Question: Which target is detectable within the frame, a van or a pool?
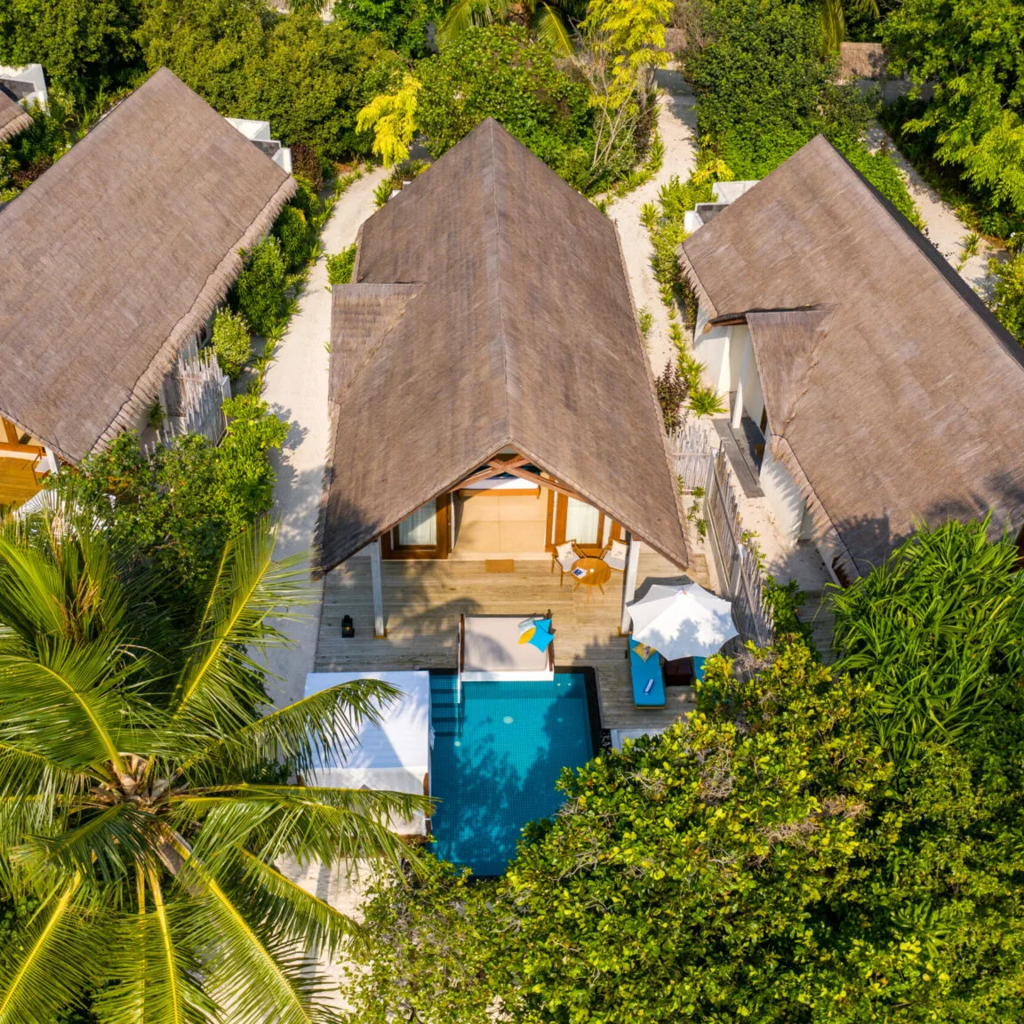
pool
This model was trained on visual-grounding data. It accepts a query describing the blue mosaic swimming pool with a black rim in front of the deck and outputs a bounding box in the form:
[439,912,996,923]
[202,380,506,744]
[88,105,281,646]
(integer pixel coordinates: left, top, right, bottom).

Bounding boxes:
[413,666,608,888]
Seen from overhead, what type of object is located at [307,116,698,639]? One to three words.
house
